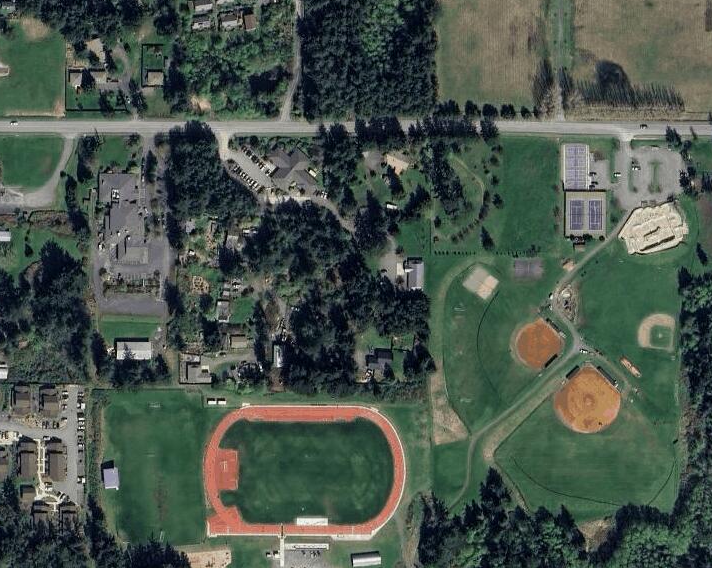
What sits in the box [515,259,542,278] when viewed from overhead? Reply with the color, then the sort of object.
gray basketball court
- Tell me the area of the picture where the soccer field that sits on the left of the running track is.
bottom left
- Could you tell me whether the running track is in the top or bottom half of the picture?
bottom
